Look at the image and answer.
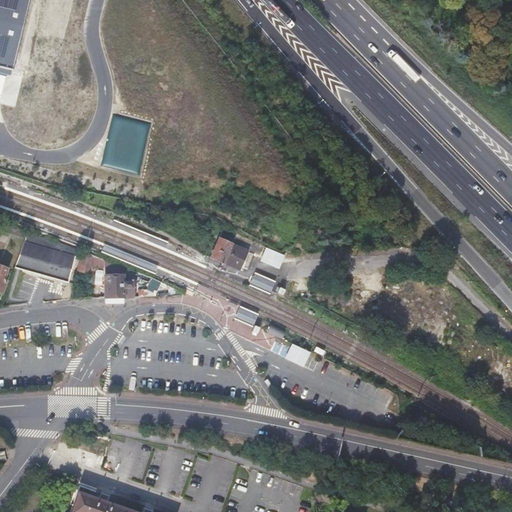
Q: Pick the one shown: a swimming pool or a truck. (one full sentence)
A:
There is a truck in the scene.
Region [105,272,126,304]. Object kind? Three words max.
house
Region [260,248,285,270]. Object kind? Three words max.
building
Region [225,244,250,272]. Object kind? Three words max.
building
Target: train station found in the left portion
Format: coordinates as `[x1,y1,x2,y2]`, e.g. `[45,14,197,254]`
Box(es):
[0,182,212,290]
